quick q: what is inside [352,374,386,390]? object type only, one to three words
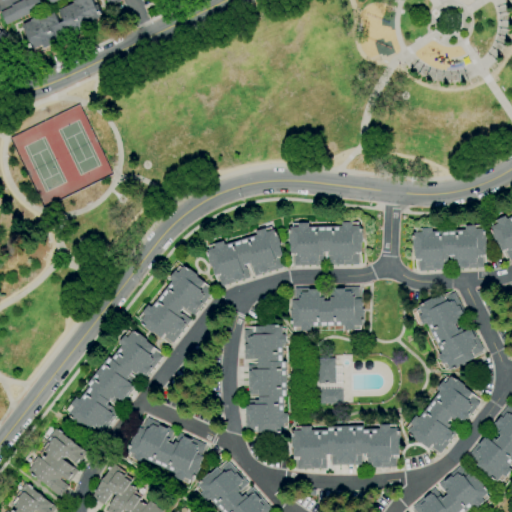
swimming pool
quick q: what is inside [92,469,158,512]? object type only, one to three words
building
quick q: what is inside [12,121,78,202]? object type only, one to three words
tennis court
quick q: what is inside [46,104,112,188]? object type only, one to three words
tennis court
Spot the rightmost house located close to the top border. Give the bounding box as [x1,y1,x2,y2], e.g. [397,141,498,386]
[22,0,100,50]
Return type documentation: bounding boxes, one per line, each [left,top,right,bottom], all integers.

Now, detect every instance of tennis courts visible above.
[46,104,112,188]
[12,121,78,202]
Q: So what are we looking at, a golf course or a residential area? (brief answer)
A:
residential area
